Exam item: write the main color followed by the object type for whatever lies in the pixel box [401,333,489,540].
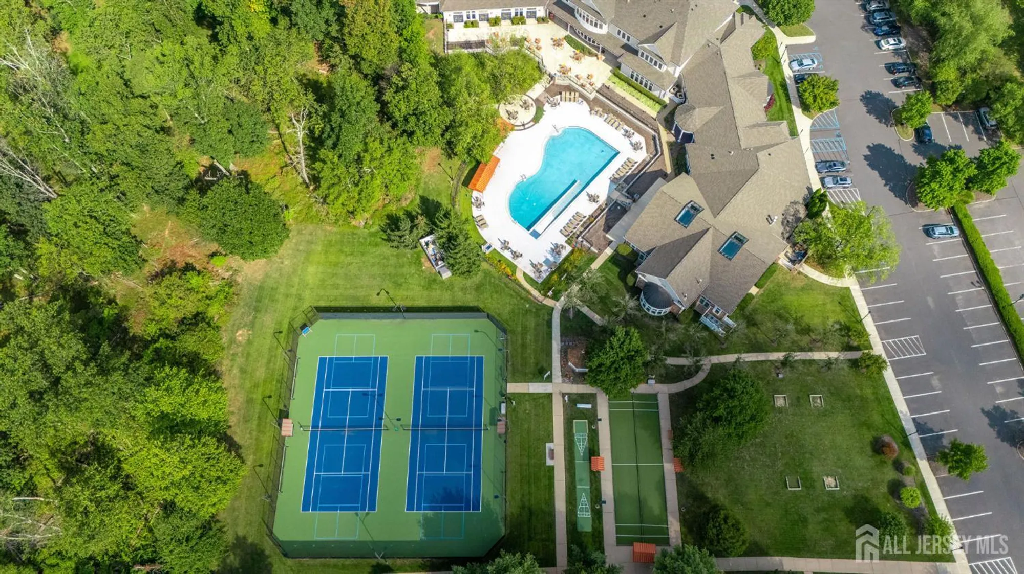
blue tennis court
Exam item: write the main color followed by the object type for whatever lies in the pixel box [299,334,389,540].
blue tennis court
